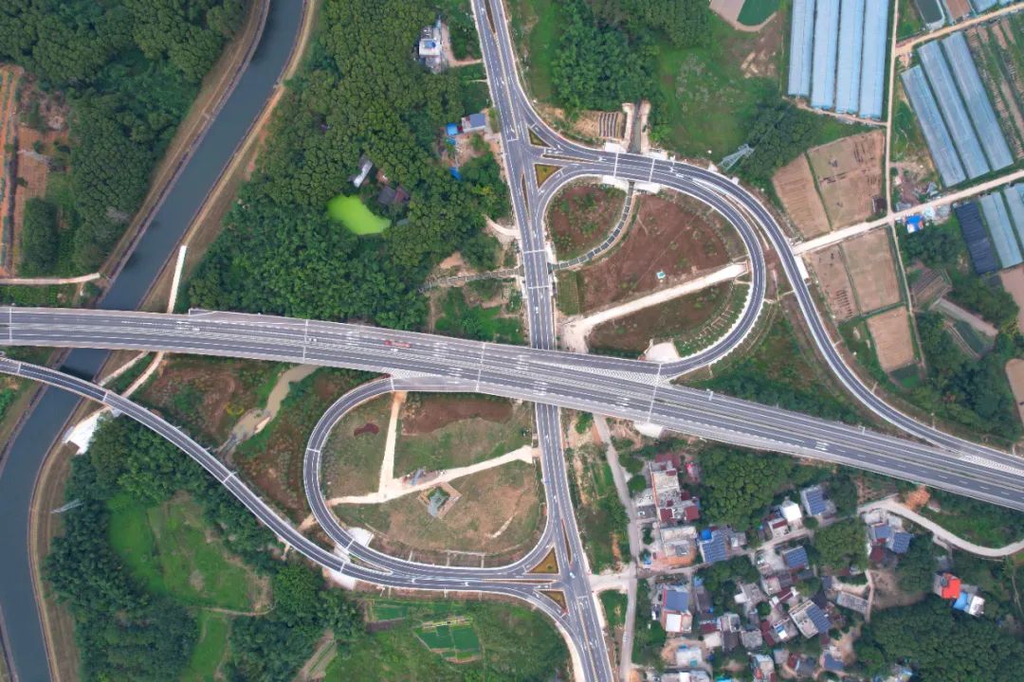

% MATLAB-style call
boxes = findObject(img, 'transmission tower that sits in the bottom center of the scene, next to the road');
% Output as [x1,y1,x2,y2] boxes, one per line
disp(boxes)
[430,487,451,516]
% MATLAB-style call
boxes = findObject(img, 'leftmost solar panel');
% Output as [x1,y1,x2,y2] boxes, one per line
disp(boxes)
[703,539,725,562]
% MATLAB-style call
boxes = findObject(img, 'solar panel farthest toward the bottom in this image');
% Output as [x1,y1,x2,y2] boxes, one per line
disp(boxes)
[807,605,831,632]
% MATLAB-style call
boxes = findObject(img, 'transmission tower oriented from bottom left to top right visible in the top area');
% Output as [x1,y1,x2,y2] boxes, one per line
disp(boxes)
[717,141,752,171]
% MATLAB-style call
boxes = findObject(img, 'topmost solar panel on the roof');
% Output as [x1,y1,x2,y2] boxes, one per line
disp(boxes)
[807,490,826,514]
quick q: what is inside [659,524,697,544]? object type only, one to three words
house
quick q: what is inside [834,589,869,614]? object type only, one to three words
barn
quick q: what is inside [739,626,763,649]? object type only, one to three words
house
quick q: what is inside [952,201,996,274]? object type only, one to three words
greenhouse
